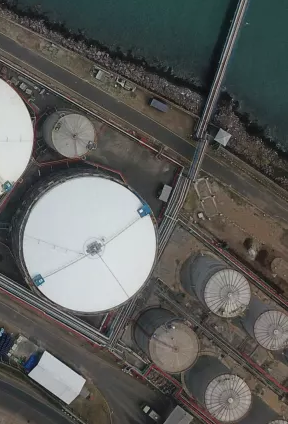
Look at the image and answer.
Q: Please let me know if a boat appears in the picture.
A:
No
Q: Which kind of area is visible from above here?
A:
industrial area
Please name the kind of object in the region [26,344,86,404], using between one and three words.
building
